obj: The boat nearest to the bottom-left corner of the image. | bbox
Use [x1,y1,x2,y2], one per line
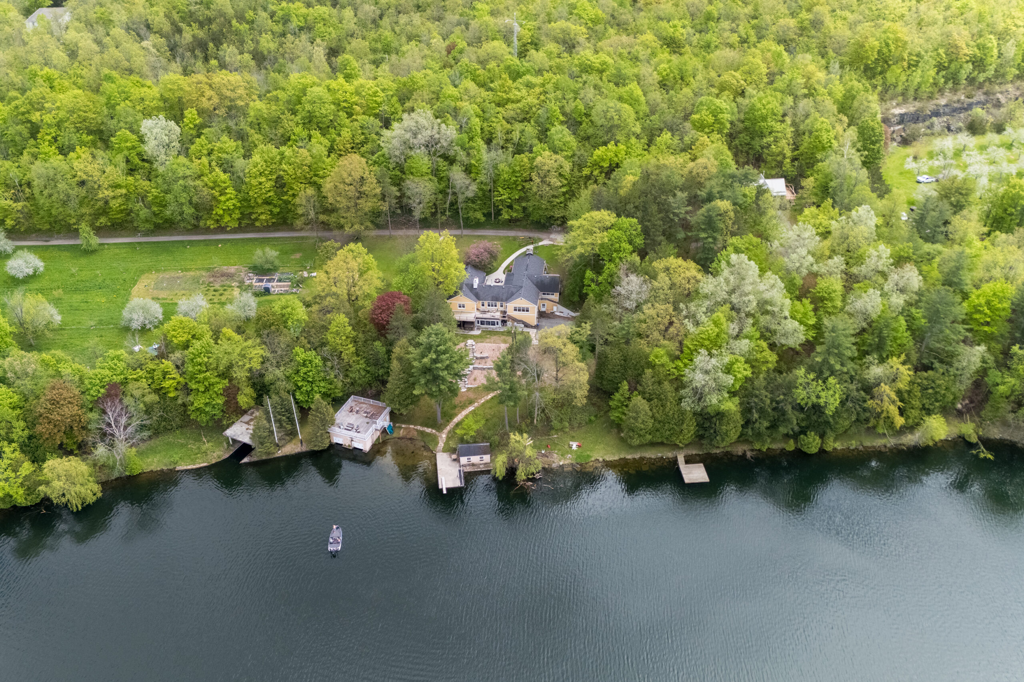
[327,524,341,560]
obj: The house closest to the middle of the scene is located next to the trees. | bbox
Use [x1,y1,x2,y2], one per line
[444,253,562,330]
